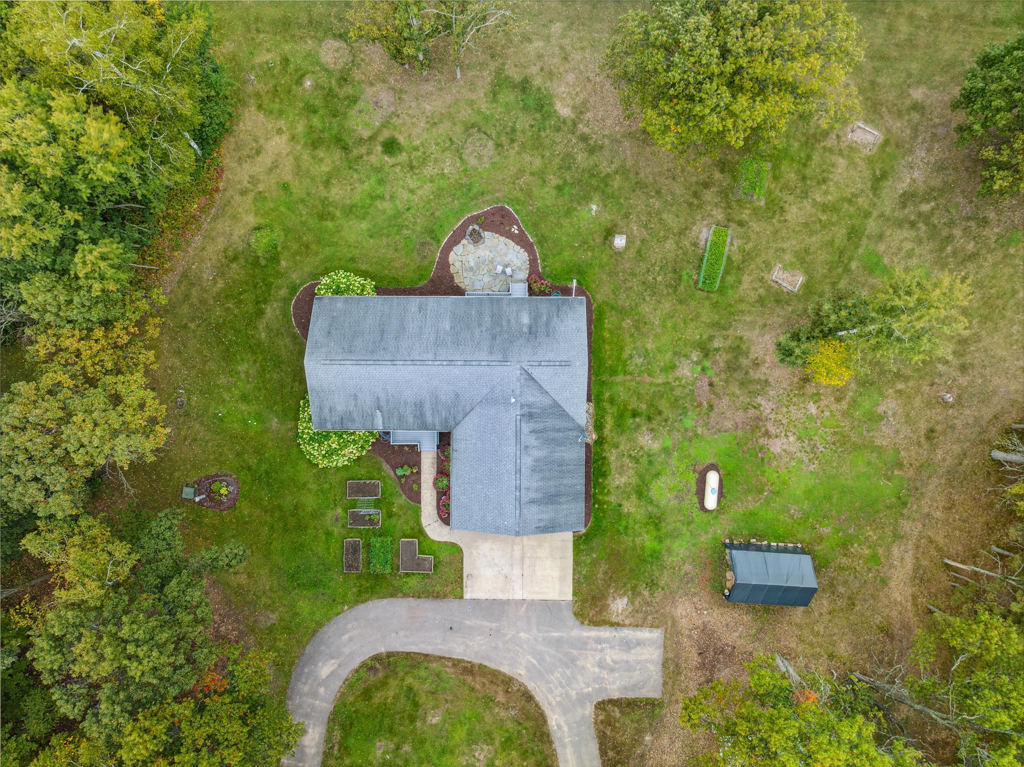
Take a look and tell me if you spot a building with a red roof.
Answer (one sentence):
No, no building with a red roof is visible in the view.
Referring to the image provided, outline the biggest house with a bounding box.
[304,294,589,537]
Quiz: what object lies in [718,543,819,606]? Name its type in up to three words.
shed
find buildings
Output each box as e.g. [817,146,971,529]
[304,294,589,537]
[718,543,819,606]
